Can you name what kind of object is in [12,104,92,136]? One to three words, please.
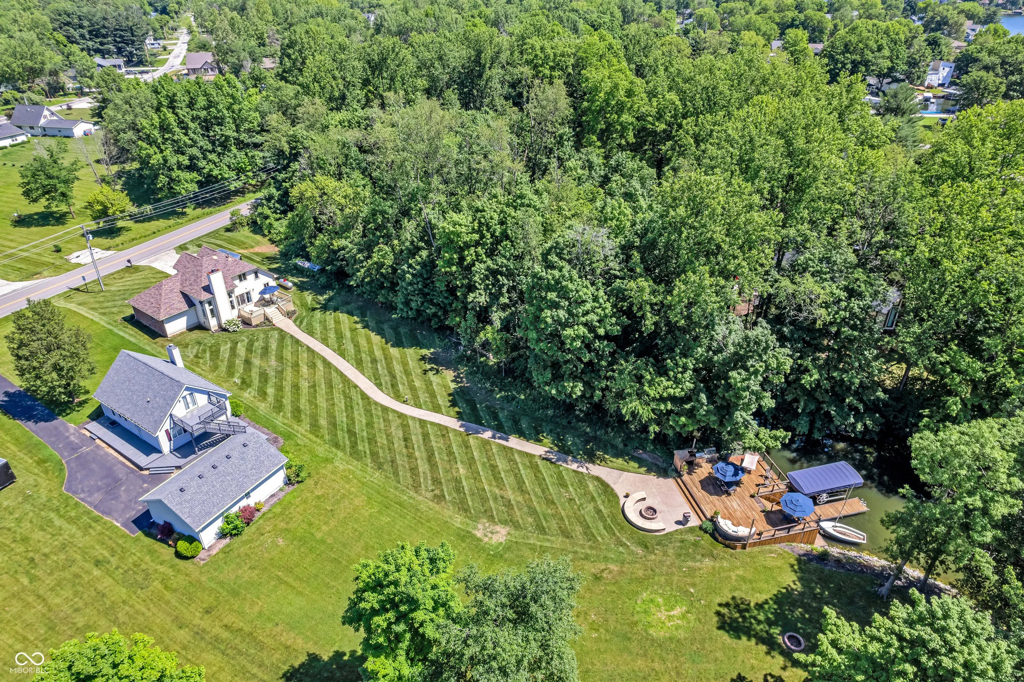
house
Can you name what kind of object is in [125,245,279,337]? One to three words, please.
house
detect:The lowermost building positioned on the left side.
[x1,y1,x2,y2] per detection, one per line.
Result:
[139,431,291,552]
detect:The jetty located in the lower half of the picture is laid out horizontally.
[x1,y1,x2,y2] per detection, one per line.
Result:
[812,497,870,522]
